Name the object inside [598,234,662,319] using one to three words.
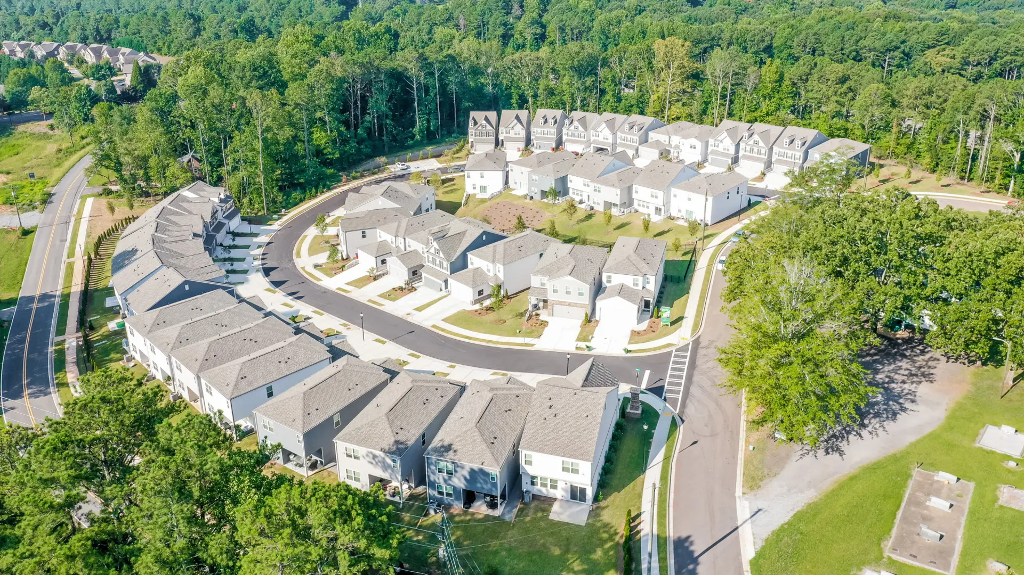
house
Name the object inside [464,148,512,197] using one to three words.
house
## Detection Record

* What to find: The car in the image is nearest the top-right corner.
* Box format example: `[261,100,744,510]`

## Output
[730,228,745,240]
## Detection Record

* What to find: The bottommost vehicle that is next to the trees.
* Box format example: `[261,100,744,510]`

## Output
[716,252,729,265]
